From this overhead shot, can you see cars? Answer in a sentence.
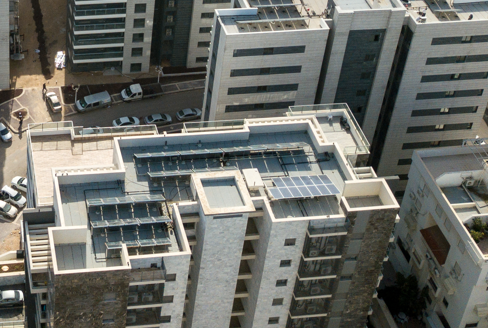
Yes, you can see a car in this photo.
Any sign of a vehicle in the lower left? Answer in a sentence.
Yes, a vehicle shows up in the lower left.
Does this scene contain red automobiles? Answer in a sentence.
No, there isn't any red automobile down there.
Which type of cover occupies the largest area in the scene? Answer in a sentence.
Most of the picture is covered by buildings.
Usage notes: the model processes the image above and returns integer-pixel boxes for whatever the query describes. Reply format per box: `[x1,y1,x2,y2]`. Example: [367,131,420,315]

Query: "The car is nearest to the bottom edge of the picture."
[0,289,24,307]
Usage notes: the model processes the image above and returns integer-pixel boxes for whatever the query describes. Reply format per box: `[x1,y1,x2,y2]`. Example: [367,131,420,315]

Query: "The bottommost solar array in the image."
[102,233,172,248]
